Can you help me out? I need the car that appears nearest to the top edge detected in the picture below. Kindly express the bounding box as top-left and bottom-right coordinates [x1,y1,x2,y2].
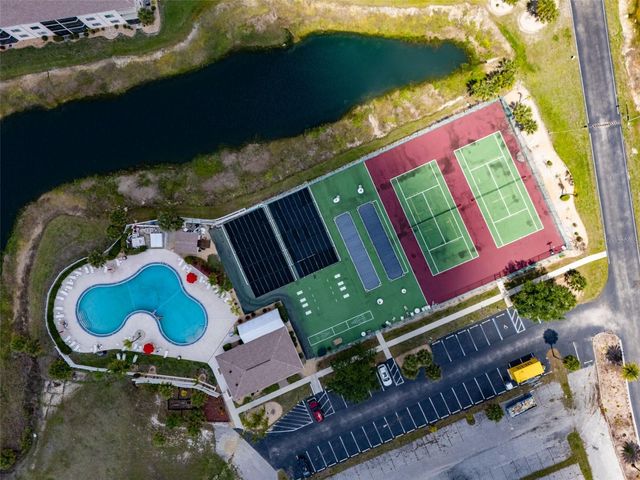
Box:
[378,364,392,388]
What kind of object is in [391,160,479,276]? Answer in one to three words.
tennis court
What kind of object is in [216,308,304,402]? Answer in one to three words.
building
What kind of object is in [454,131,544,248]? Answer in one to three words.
tennis court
